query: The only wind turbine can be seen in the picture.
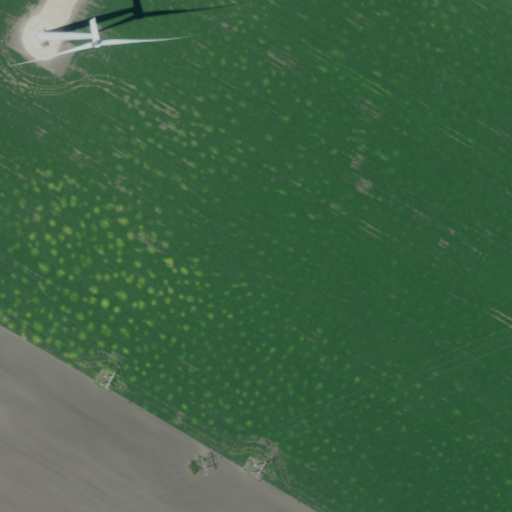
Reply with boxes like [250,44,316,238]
[10,16,190,66]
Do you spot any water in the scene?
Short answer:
No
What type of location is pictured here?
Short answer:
farmland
